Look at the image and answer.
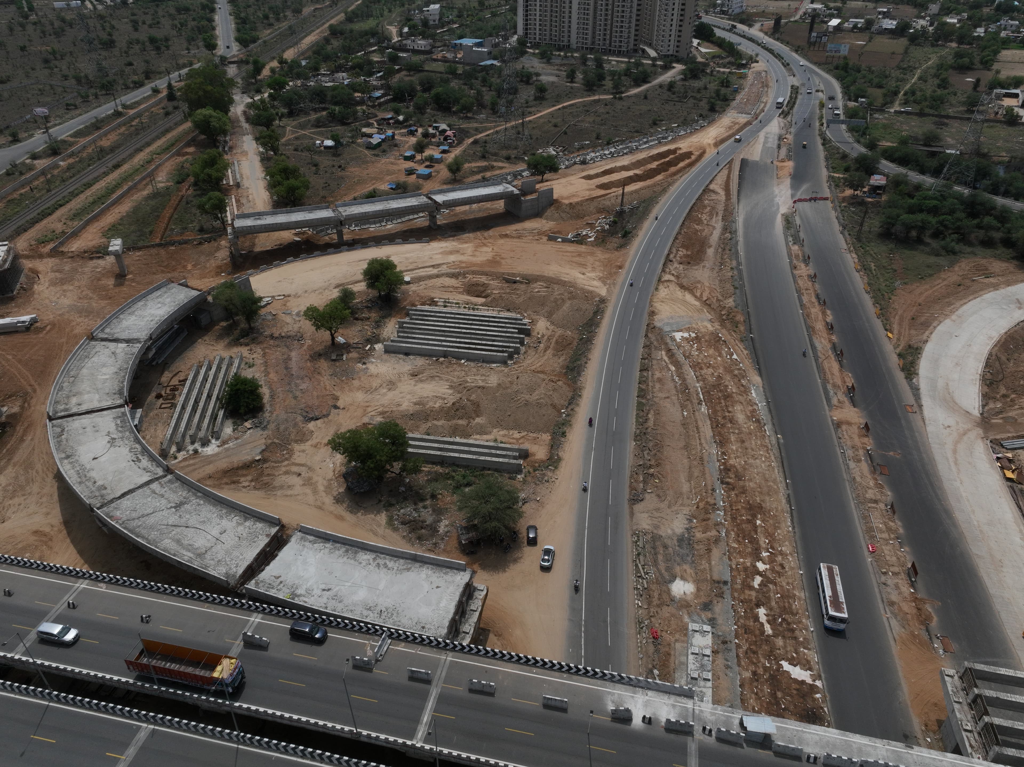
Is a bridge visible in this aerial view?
Yes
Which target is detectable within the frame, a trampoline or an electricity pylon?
electricity pylon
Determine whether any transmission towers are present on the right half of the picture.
Yes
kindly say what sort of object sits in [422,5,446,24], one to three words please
house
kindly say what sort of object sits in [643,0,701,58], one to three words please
building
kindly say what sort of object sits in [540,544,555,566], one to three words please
car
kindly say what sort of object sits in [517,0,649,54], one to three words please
building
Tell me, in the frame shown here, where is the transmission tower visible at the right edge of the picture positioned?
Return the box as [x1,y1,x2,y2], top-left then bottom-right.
[922,65,1003,194]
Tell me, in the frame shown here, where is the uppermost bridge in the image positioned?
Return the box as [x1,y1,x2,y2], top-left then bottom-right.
[234,181,514,258]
